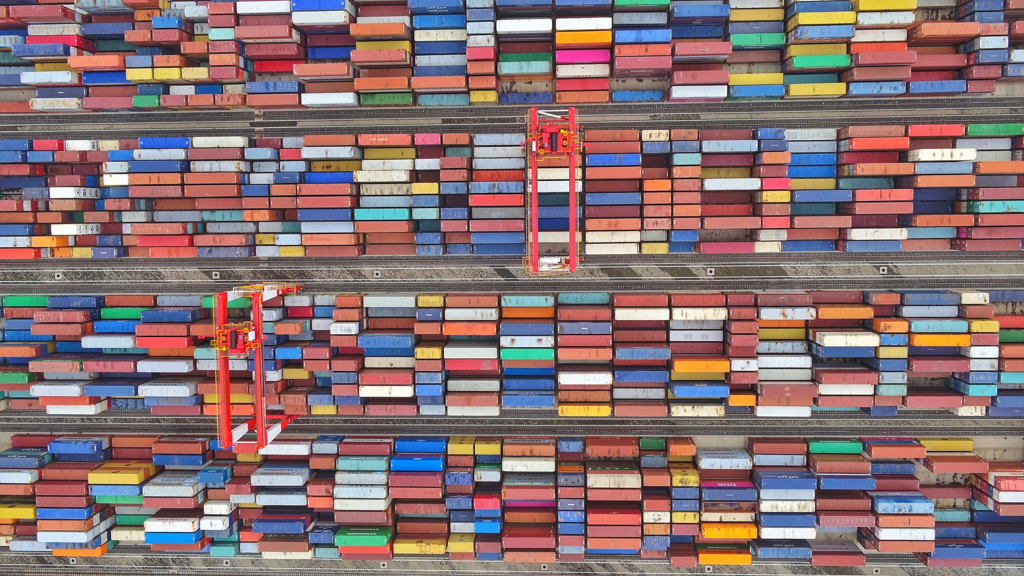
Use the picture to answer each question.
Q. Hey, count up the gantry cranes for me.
2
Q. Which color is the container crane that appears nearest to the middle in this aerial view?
red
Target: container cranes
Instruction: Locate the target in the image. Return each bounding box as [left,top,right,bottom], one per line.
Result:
[517,106,589,277]
[206,280,306,447]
